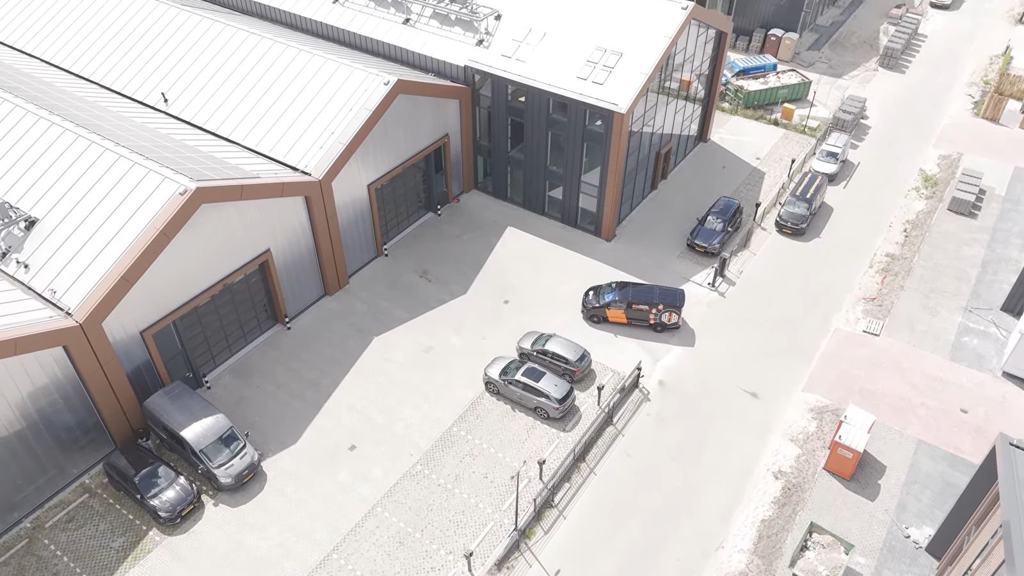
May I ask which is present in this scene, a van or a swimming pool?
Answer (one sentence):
The image shows a van.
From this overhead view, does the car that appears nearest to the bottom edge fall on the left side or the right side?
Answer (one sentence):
It is on the left.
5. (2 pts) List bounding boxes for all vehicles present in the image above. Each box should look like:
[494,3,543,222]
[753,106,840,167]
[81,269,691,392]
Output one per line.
[774,173,829,238]
[685,197,744,259]
[136,376,263,487]
[102,442,203,525]
[578,276,687,331]
[809,119,859,179]
[718,54,778,97]
[513,326,598,381]
[481,353,581,420]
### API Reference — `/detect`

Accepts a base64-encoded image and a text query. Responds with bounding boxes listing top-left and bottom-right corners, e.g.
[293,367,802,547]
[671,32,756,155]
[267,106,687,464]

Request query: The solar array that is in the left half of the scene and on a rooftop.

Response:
[0,67,257,179]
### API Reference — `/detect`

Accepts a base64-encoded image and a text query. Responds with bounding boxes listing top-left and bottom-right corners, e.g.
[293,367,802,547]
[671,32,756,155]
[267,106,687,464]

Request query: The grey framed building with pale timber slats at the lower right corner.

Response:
[925,430,1024,576]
